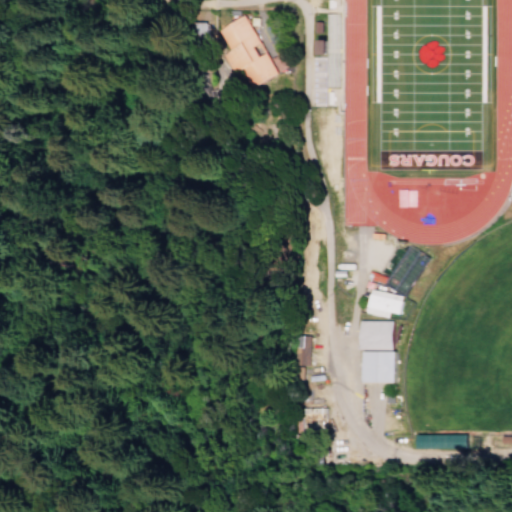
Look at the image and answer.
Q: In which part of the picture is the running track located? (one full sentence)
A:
The running track is in the top right part of the image.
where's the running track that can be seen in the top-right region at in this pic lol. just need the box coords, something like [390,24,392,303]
[346,0,512,247]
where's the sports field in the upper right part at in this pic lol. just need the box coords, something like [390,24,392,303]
[368,0,496,178]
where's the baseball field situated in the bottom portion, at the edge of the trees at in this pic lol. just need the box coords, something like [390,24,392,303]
[406,224,512,434]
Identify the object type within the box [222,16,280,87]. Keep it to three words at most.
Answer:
house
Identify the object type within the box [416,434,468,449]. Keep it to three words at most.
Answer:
barn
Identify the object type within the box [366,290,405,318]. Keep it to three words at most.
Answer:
building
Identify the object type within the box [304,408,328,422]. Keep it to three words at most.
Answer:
shed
